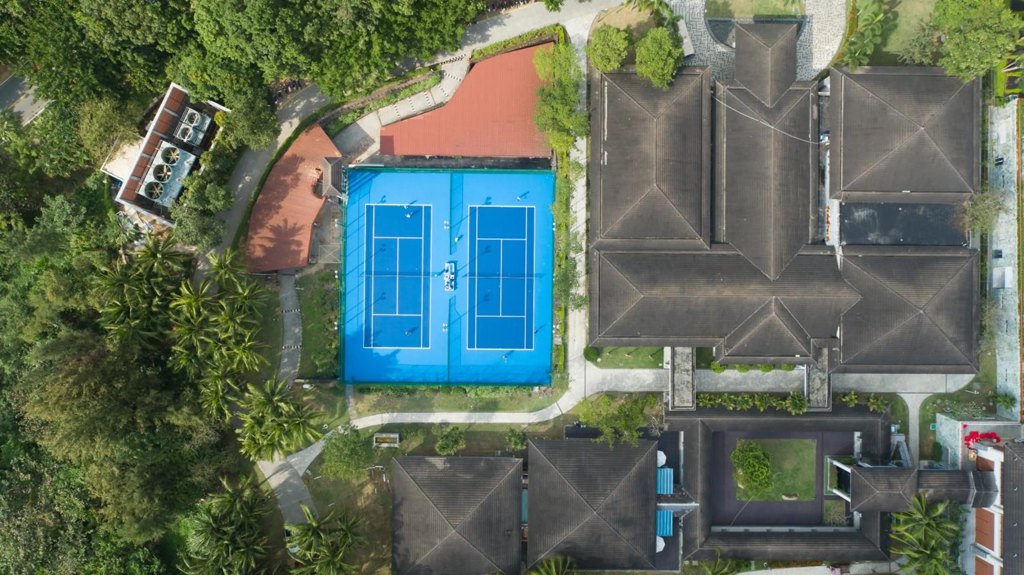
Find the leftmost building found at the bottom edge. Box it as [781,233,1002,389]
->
[391,457,522,575]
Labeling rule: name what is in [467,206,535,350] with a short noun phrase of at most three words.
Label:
tennis court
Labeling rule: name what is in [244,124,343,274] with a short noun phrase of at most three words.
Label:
building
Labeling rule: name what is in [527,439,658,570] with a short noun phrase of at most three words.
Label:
house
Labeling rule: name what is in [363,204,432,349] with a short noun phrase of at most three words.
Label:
tennis court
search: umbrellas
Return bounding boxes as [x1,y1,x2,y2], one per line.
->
[657,450,667,469]
[656,536,665,553]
